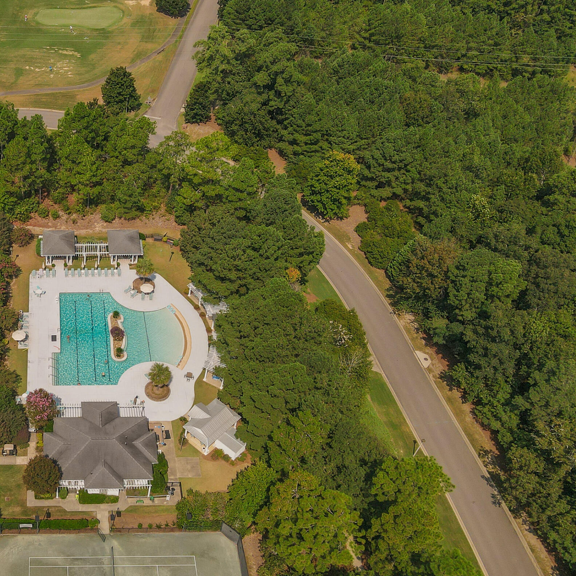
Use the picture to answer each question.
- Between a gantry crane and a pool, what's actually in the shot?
pool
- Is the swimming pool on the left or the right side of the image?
left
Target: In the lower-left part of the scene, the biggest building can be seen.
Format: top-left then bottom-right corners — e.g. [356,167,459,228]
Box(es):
[43,401,158,498]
